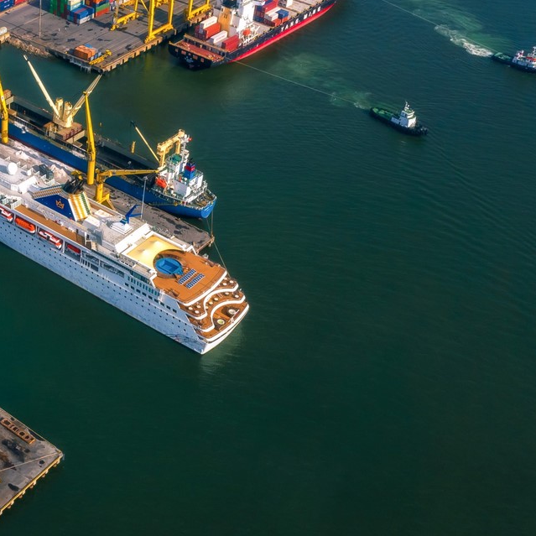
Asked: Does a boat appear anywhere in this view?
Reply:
Yes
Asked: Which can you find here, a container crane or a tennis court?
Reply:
container crane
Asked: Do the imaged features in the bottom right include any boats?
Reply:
No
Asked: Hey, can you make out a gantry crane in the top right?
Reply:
No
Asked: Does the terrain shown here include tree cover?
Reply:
No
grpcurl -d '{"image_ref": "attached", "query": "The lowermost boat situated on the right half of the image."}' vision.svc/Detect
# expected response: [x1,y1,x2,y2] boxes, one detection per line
[368,99,429,132]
